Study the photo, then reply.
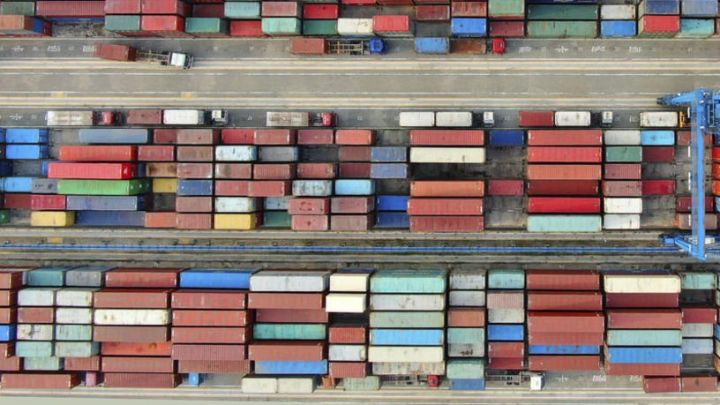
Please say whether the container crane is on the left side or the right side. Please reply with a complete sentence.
You can find the container crane on the right side of the picture.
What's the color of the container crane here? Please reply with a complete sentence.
From above, the container crane appears blue.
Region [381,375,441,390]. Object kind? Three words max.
vehicle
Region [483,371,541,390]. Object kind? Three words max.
vehicle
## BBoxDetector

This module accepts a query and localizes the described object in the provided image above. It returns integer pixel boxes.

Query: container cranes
[658,86,720,262]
